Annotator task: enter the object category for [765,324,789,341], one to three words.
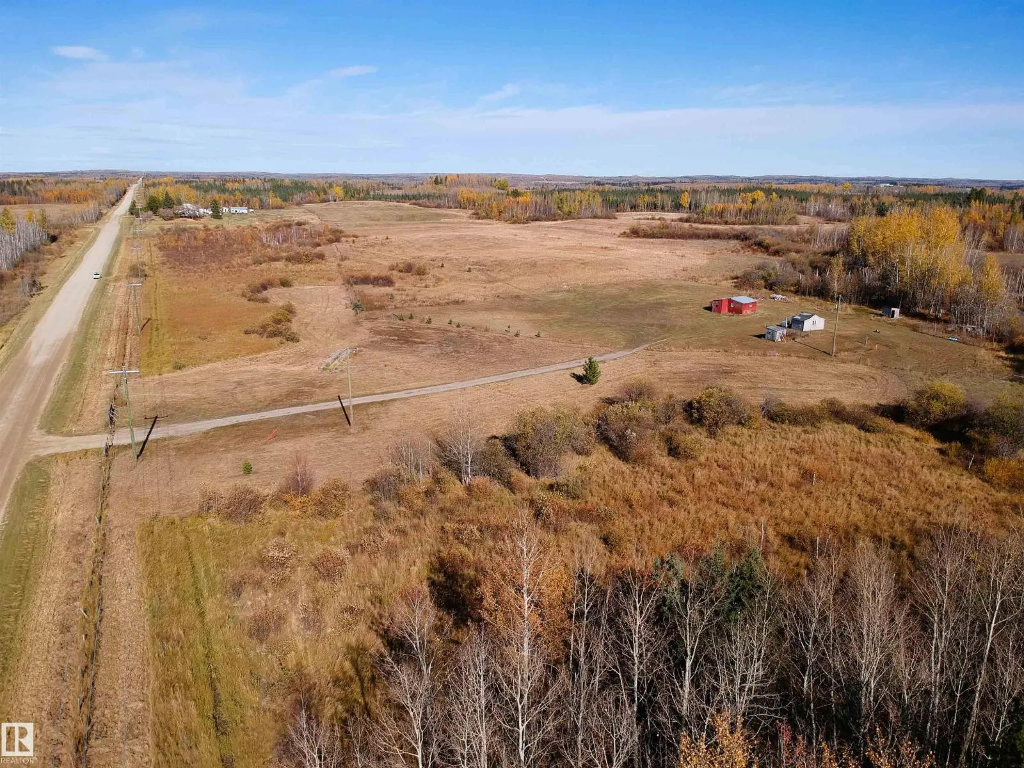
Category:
shed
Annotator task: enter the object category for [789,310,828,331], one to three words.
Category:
building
